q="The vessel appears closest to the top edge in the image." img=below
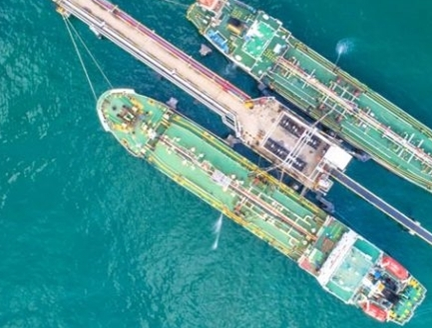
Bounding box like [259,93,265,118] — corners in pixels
[186,0,432,194]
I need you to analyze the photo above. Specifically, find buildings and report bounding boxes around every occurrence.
[327,145,358,172]
[318,175,334,192]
